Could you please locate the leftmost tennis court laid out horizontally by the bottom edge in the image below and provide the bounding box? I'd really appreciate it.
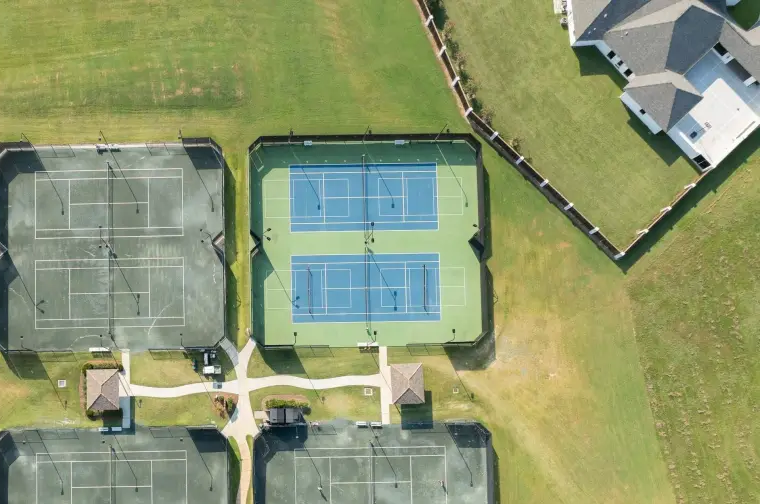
[0,426,231,504]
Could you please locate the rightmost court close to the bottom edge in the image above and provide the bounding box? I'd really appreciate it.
[252,420,489,504]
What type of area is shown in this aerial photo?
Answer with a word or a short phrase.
sports ground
